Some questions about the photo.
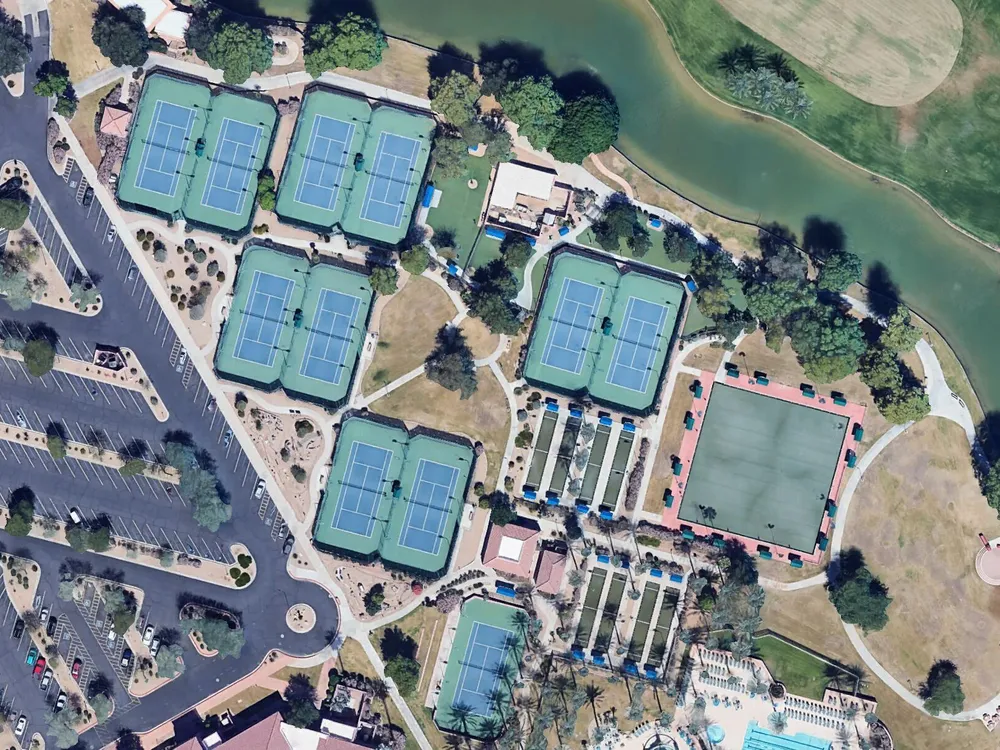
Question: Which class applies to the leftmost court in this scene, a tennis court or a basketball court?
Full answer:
I'd identify the leftmost court as a tennis court.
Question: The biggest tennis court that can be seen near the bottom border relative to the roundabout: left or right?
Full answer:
To the right of the roundabout is where the biggest tennis court that can be seen near the bottom border appears.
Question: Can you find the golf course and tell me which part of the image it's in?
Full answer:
Look in the top right portion of the view to spot the golf course.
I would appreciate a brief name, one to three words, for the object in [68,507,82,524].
vehicle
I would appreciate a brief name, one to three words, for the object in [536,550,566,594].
building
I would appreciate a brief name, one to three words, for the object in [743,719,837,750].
swimming pool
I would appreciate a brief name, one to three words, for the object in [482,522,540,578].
building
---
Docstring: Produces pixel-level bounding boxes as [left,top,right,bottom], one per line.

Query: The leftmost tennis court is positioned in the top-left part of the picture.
[116,73,215,219]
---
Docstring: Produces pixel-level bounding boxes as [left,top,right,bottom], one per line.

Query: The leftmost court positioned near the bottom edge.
[435,595,532,741]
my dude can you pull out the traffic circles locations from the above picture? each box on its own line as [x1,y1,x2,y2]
[285,604,316,634]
